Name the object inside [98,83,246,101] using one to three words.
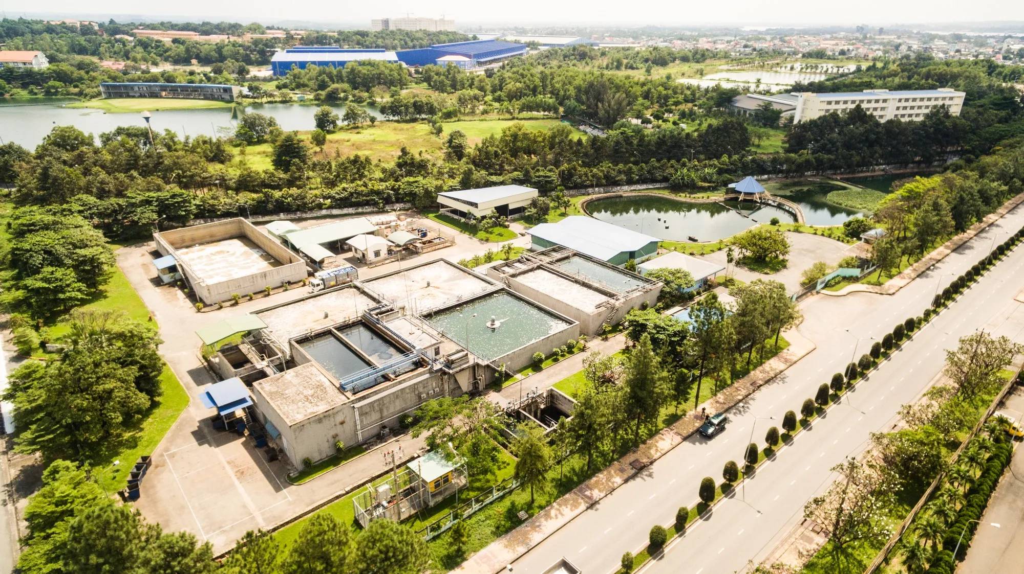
building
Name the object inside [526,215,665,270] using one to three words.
shed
